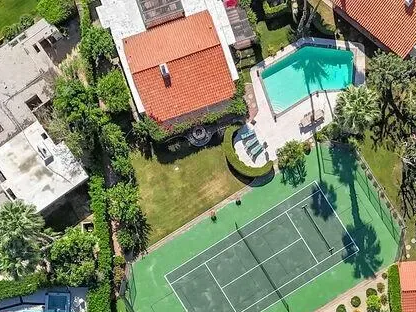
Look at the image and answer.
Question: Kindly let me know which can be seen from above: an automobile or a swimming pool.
swimming pool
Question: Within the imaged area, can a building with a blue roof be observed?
No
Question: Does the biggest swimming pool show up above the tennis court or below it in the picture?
above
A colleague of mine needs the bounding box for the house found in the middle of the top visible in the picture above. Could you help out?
[95,0,238,126]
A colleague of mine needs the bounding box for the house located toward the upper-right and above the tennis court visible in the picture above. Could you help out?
[333,0,416,62]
